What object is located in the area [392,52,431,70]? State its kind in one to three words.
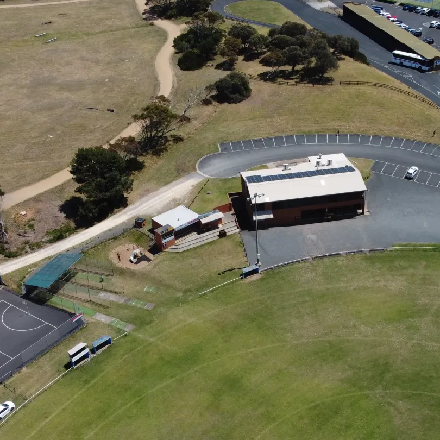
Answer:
vehicle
